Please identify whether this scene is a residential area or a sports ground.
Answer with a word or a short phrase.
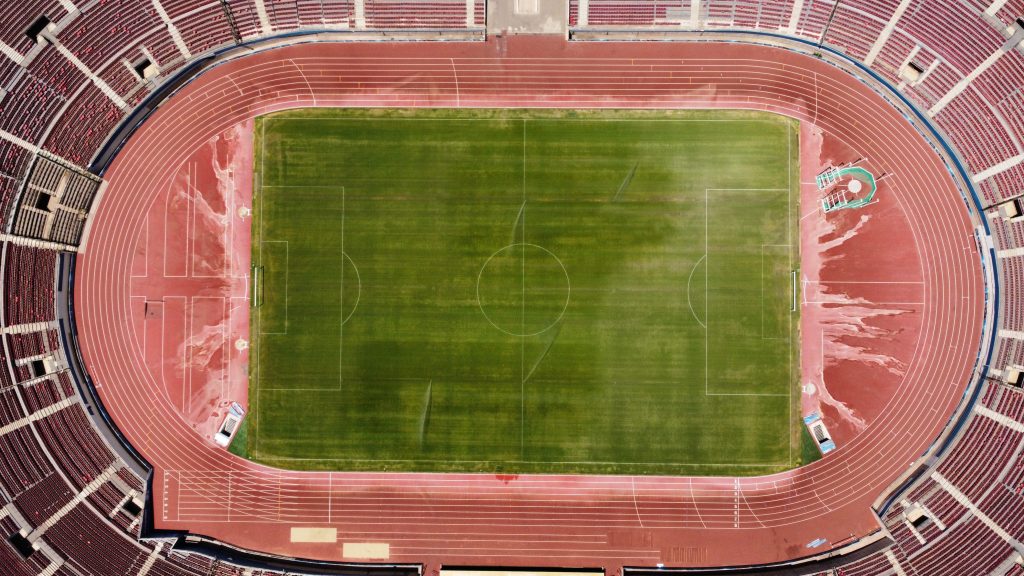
sports ground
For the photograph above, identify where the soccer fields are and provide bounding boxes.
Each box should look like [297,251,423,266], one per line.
[228,107,823,477]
